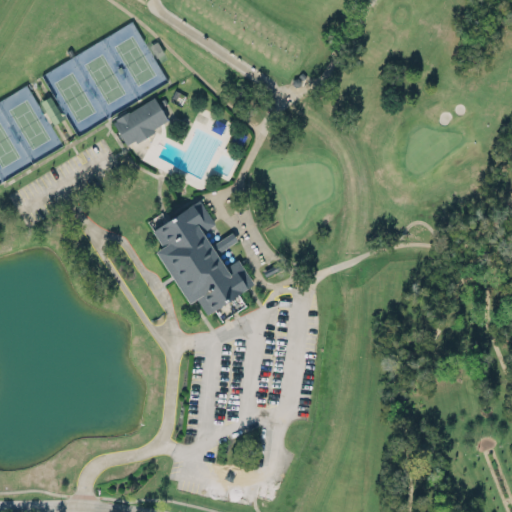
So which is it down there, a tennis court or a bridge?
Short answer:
tennis court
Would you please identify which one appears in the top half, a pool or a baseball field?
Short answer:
pool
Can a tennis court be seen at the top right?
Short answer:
No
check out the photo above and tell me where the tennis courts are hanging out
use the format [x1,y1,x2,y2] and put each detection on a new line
[73,40,138,114]
[0,108,33,182]
[46,59,108,131]
[102,21,168,96]
[0,87,62,162]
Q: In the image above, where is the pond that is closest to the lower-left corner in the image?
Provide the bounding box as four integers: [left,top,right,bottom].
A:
[0,248,145,470]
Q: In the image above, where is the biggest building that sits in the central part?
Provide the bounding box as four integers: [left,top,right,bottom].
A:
[155,202,254,315]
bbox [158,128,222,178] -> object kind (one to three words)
swimming pool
